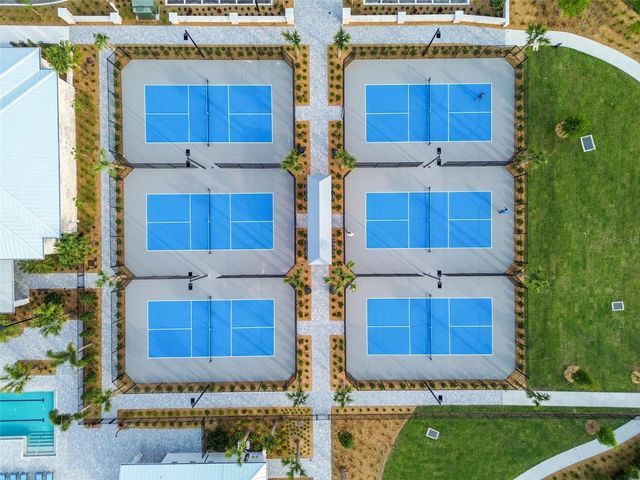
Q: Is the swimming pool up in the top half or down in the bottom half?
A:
bottom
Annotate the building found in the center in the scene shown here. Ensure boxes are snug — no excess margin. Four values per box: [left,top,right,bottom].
[308,175,331,264]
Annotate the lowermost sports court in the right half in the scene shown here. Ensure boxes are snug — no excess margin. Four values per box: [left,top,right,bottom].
[344,274,516,381]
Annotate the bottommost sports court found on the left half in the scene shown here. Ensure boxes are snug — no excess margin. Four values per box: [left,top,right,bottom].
[124,275,296,382]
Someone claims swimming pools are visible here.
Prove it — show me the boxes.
[0,390,56,457]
